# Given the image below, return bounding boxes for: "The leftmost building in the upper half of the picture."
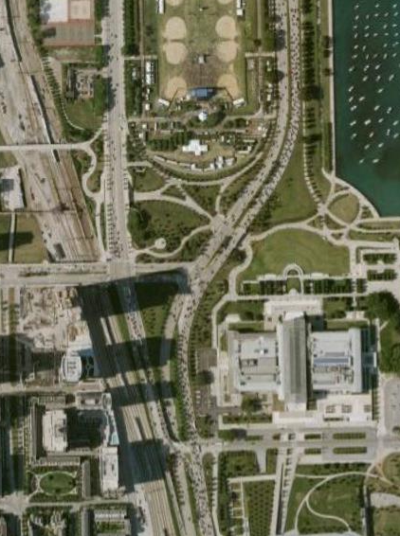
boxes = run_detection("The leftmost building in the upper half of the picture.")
[0,166,25,211]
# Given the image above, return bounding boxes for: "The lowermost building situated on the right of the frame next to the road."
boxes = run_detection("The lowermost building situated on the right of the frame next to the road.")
[227,302,376,418]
